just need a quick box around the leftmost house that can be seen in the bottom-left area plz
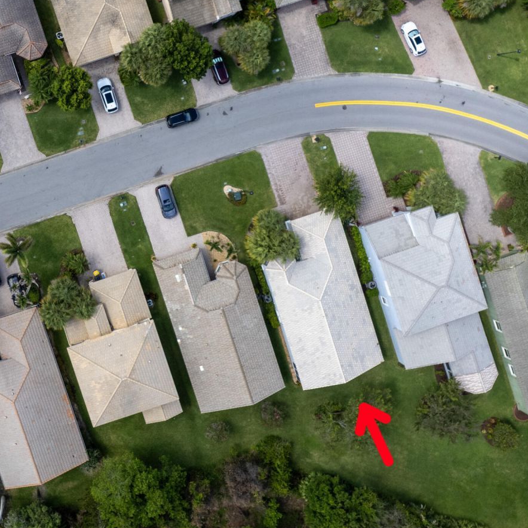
[0,307,89,490]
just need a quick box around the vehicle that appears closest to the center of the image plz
[154,183,177,220]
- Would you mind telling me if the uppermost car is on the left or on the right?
right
